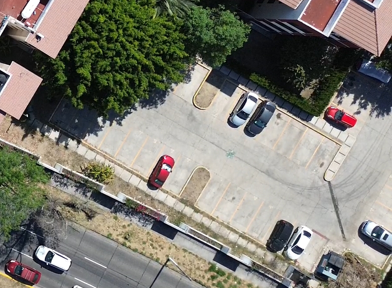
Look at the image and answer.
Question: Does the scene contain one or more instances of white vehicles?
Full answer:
Yes, a white vehicle can be made out from above.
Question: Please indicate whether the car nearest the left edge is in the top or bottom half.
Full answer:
The car nearest the left edge is in the bottom half of the image.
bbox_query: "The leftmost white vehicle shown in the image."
[33,244,72,273]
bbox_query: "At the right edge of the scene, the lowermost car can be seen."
[355,219,392,250]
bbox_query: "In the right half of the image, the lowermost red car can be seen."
[322,105,356,128]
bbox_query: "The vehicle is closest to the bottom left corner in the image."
[4,259,42,286]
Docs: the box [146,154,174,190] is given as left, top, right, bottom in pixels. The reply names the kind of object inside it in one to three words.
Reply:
car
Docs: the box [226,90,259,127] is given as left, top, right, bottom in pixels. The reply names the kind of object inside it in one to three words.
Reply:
car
